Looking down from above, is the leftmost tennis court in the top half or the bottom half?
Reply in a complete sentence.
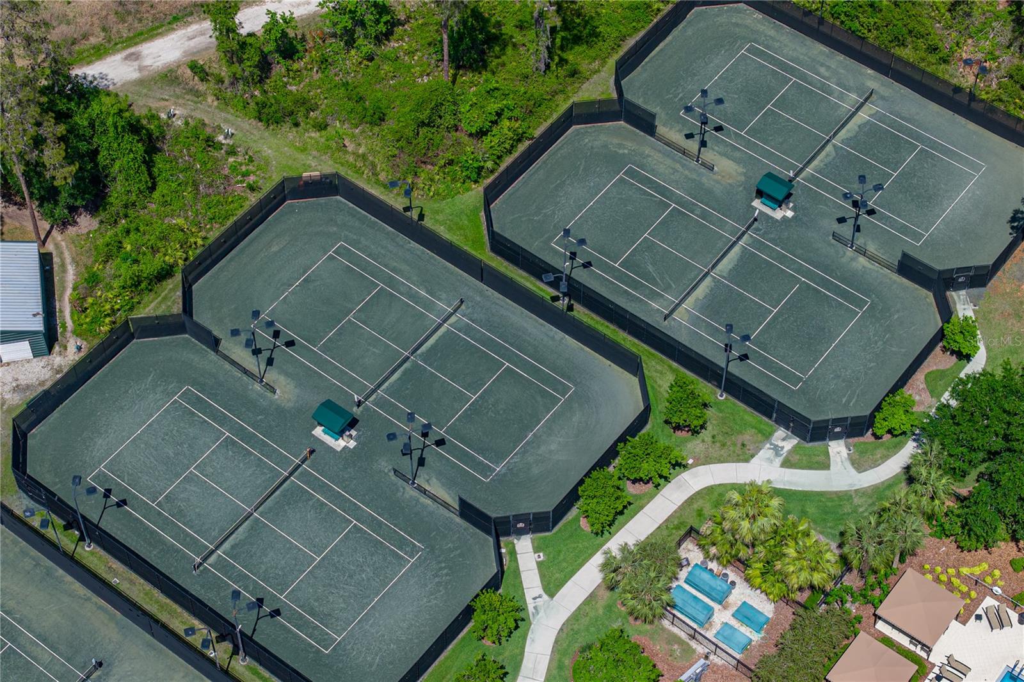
Seen from above, the leftmost tennis court lies in the bottom half of the view.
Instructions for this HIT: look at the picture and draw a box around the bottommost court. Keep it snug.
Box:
[0,524,211,682]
